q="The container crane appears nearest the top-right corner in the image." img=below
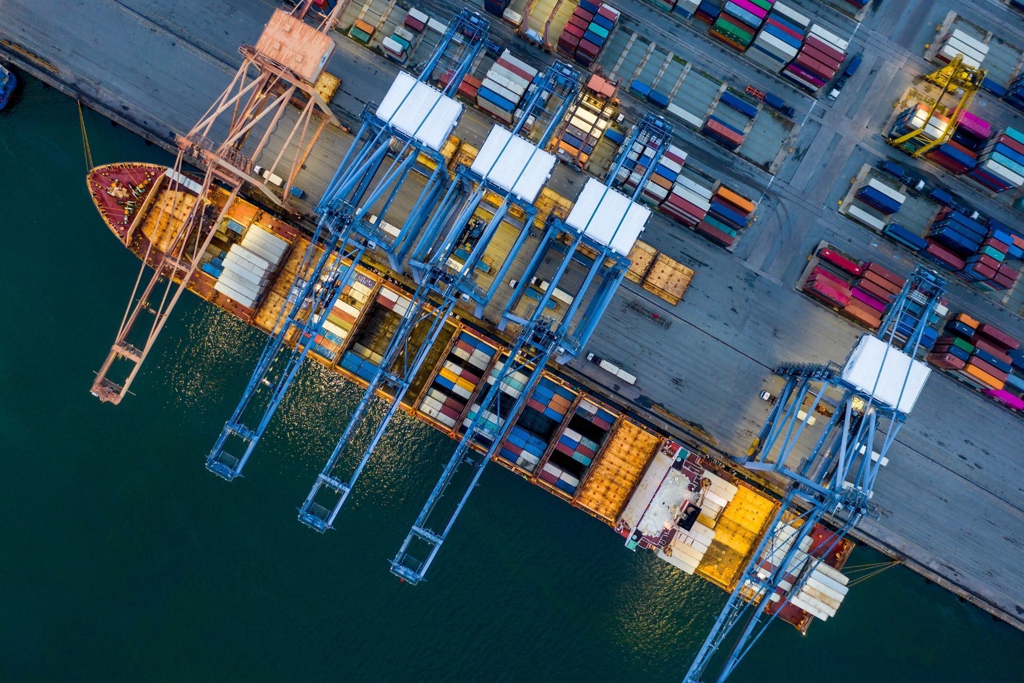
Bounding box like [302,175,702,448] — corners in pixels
[885,52,993,160]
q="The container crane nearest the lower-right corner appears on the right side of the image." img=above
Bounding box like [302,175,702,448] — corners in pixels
[680,263,954,683]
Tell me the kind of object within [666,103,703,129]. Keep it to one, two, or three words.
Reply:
shipping container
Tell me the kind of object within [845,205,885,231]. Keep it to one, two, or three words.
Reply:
shipping container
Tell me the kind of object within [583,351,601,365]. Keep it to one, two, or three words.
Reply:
vehicle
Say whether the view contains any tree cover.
No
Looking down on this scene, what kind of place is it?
port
